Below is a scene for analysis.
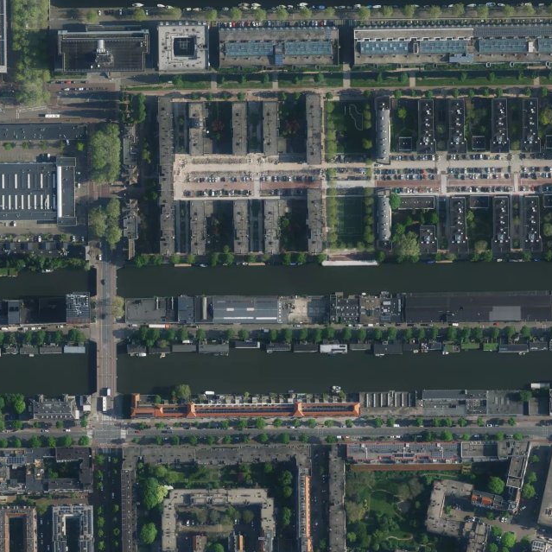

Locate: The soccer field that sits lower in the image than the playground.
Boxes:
[336,197,372,246]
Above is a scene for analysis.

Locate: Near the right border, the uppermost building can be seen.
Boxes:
[354,26,552,67]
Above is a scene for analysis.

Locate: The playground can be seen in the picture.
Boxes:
[326,100,375,154]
